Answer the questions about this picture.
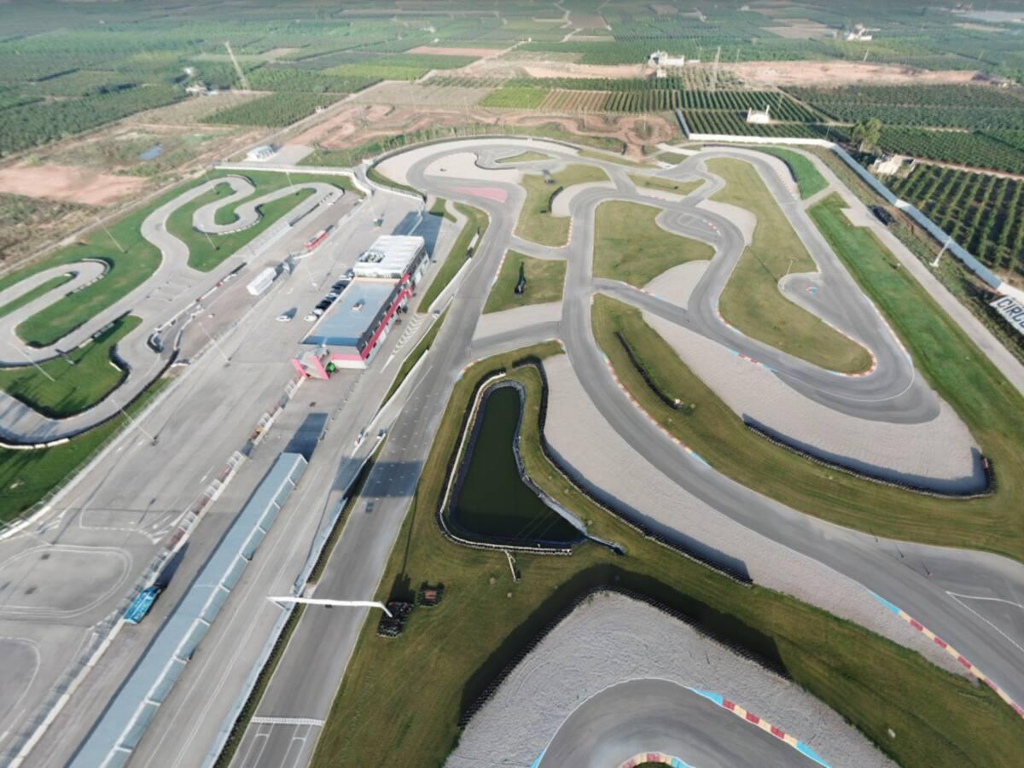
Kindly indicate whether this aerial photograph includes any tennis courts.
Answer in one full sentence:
No, the photo shows no tennis court.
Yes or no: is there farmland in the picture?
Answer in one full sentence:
Yes, farmland shows up in the scene.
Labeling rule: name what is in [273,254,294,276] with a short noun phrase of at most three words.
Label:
truck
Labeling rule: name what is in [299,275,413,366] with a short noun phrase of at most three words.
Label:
building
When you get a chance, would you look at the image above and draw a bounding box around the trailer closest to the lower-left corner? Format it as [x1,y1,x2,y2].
[104,578,163,629]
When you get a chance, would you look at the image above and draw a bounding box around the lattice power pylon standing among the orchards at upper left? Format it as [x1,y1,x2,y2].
[227,47,249,88]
